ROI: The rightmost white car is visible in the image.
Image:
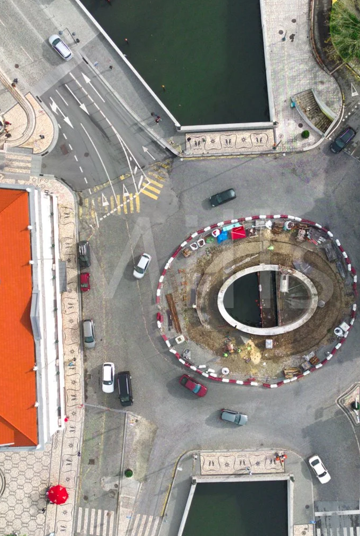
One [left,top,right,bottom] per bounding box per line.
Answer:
[309,453,329,484]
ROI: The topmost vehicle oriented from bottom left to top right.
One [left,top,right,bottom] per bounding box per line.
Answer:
[329,125,356,155]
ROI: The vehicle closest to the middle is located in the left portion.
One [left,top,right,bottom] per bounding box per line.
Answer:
[133,250,152,281]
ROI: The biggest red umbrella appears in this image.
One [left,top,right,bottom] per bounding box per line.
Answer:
[48,483,69,504]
